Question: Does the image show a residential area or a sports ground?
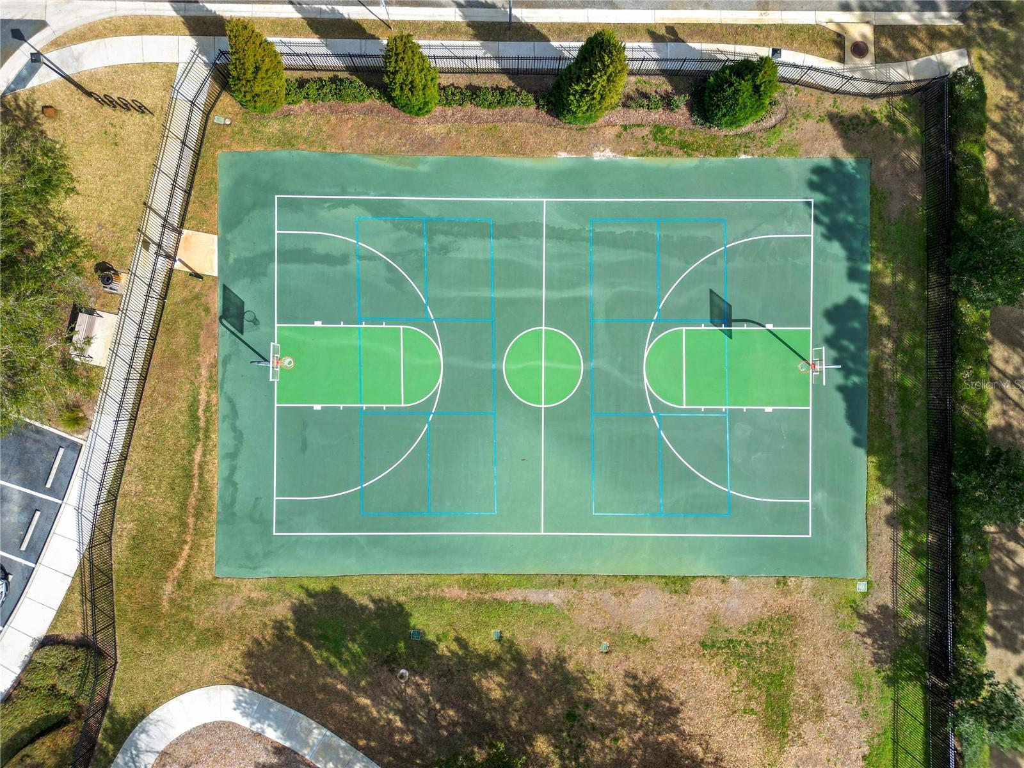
sports ground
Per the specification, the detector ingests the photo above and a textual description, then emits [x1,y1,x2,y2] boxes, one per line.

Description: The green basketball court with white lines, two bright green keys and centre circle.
[215,151,870,578]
